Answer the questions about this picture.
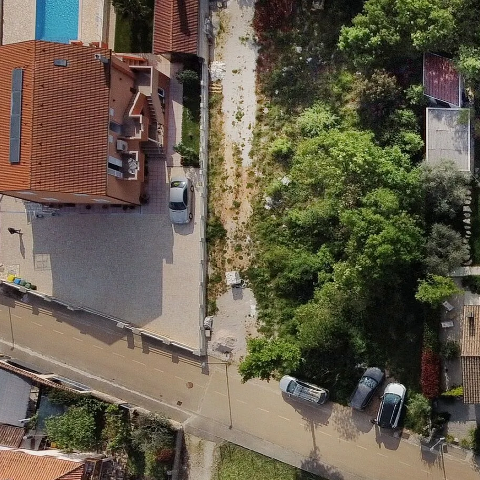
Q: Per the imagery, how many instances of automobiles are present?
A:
4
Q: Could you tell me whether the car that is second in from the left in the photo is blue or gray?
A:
gray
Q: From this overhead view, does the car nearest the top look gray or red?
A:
gray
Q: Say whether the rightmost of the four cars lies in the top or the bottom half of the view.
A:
bottom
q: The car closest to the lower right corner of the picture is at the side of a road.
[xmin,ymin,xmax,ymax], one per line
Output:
[376,383,405,431]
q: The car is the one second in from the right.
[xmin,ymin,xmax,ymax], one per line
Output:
[350,369,381,414]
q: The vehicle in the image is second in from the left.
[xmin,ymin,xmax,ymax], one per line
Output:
[277,377,328,409]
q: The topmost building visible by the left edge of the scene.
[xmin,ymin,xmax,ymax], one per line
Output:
[0,40,185,204]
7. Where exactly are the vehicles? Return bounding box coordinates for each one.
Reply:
[166,177,191,224]
[376,383,405,431]
[350,369,381,414]
[277,377,328,409]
